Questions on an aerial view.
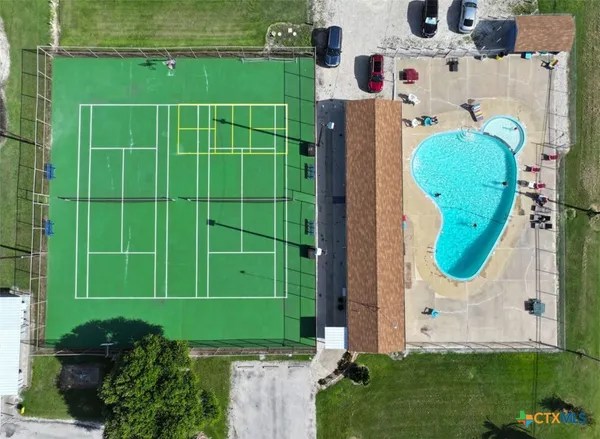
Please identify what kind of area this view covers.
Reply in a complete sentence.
The area seen from above is a sports ground.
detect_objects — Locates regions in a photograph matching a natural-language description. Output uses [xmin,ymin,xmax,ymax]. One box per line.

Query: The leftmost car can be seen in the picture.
[325,26,343,67]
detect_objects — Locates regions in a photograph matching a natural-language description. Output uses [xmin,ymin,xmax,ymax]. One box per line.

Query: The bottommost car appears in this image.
[367,56,386,93]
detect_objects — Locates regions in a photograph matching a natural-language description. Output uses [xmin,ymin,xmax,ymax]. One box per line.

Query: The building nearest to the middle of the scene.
[346,98,405,354]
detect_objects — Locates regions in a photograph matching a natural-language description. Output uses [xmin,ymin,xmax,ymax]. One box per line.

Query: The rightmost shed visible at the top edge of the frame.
[506,14,576,55]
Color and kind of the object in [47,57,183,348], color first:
green tennis court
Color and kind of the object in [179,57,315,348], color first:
green tennis court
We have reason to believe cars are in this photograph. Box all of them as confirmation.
[419,0,439,38]
[325,26,343,67]
[367,56,386,93]
[457,0,477,34]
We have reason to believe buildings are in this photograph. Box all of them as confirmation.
[0,297,35,397]
[506,14,576,55]
[346,98,405,354]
